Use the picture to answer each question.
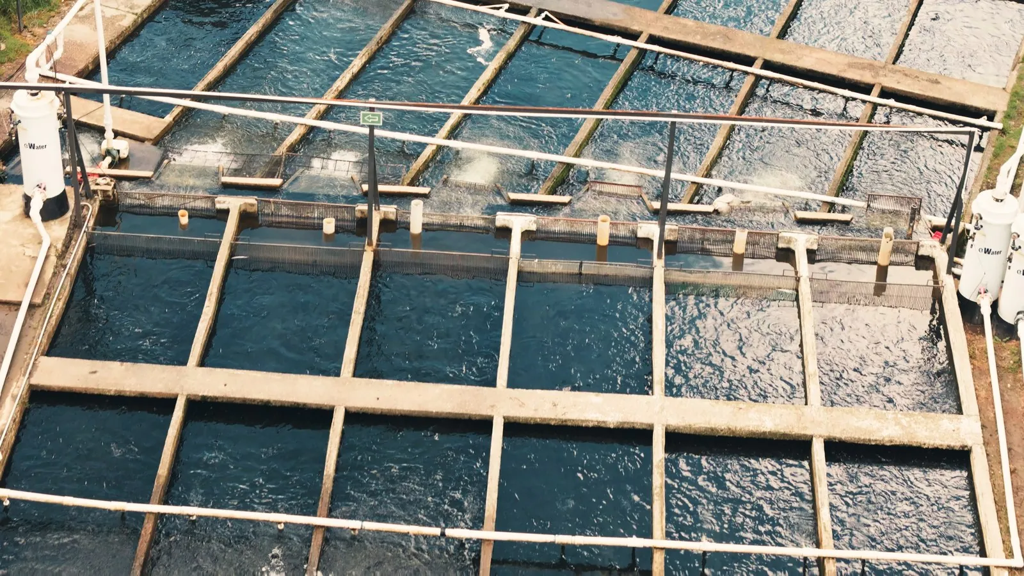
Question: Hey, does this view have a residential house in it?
No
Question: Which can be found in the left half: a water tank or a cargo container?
water tank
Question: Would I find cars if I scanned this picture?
No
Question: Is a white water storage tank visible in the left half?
Yes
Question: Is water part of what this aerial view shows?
Yes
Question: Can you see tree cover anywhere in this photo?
No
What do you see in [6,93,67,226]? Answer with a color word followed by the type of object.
white water tank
